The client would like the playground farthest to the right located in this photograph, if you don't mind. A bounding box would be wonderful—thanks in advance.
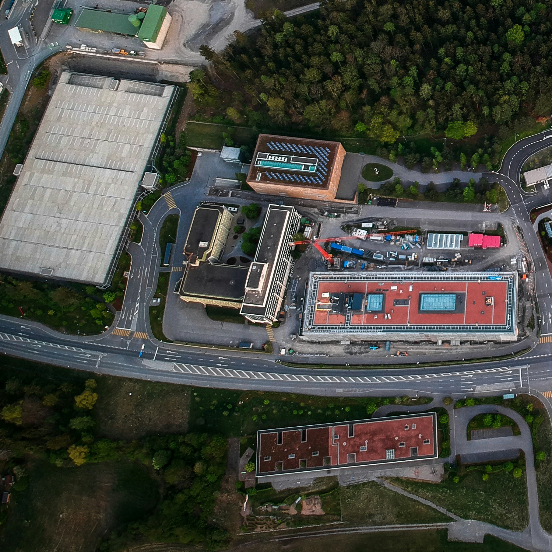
[377,467,443,482]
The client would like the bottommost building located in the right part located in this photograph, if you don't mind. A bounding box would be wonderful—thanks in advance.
[256,412,439,477]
